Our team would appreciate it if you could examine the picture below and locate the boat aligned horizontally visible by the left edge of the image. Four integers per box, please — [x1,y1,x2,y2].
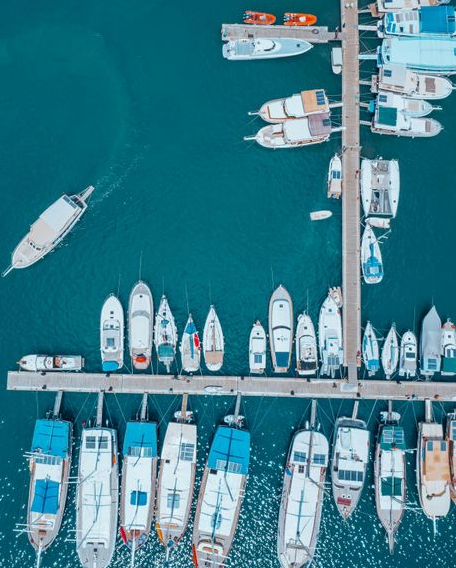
[15,354,92,373]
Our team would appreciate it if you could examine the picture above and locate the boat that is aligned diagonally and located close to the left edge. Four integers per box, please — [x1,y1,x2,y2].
[4,191,94,274]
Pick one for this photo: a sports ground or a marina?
marina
